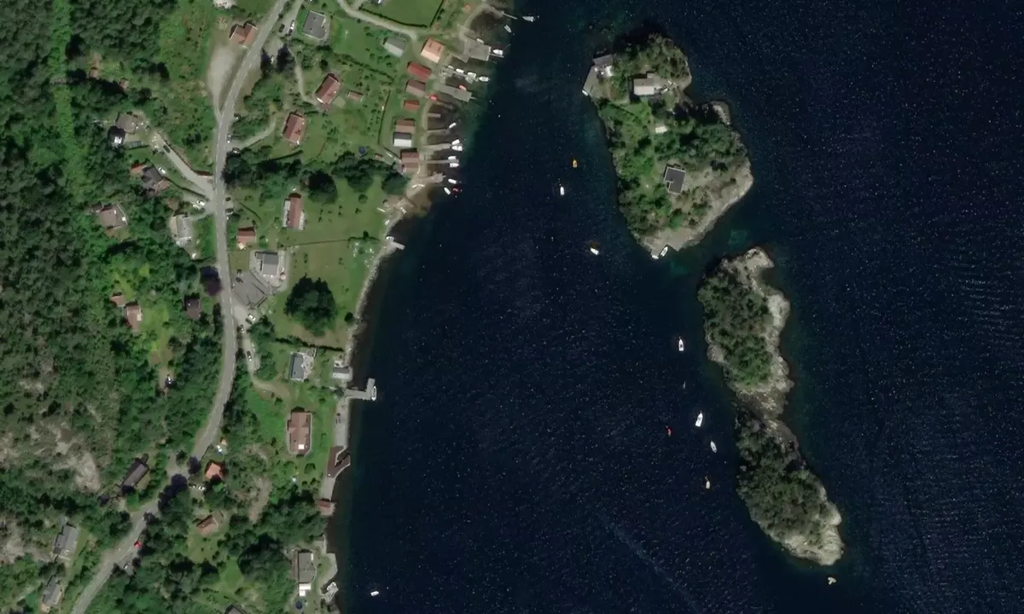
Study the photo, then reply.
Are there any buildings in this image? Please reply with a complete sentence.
Yes, there's a building down there.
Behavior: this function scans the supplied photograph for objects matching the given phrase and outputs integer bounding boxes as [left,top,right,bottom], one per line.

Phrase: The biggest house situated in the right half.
[630,72,674,102]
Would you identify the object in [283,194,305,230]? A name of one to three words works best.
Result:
house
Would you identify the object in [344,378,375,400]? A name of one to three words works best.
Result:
pier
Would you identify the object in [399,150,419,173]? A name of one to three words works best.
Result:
building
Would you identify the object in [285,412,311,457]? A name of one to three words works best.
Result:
house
